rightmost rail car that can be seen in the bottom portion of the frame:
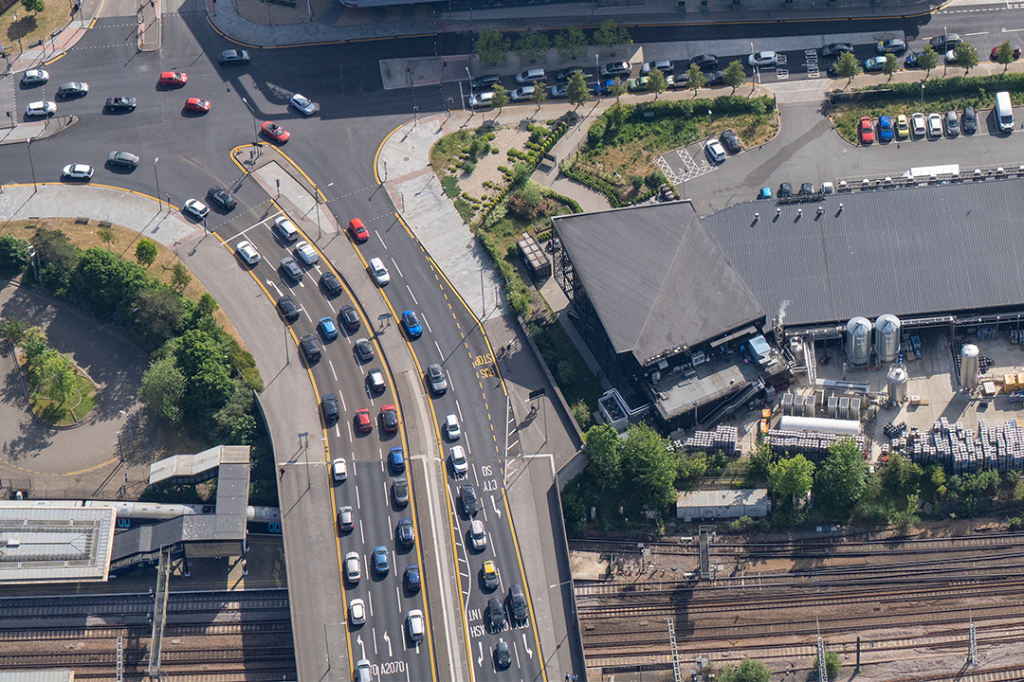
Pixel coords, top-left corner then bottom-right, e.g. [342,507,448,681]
[251,513,283,540]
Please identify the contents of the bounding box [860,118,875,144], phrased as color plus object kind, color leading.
red car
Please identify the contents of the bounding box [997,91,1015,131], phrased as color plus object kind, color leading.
white vehicle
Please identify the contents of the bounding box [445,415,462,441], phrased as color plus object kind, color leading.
white car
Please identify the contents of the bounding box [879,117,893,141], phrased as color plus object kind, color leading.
blue car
